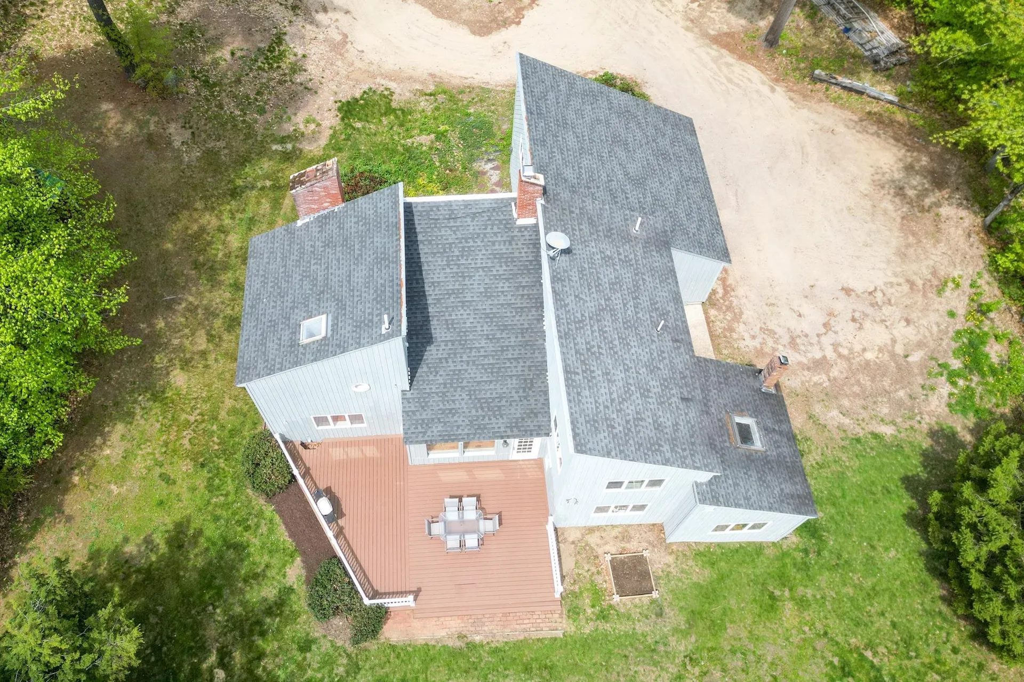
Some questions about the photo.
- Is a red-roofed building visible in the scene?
No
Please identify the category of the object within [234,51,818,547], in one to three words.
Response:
house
